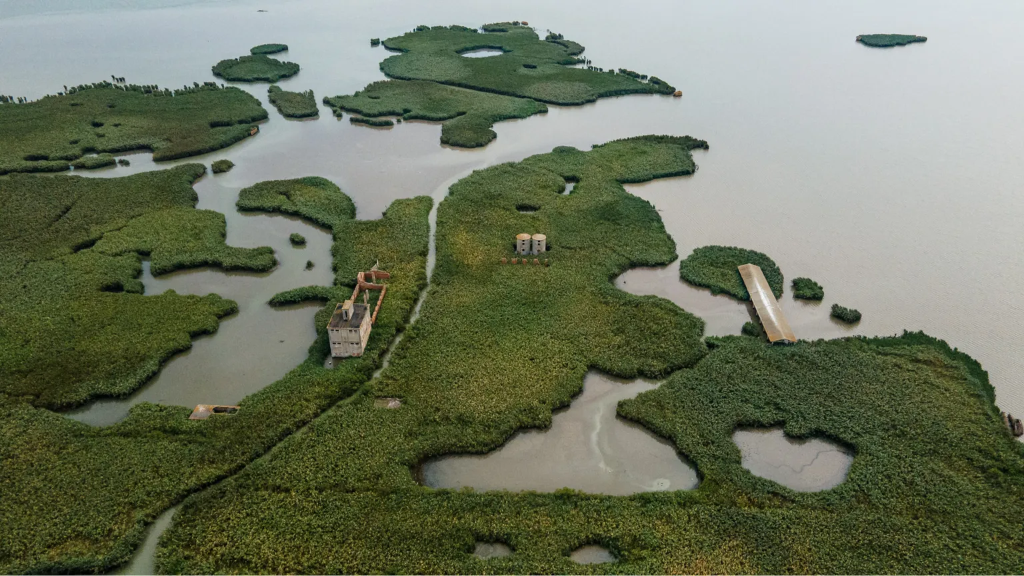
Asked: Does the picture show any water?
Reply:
Yes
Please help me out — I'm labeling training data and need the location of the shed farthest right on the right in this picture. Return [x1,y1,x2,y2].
[737,263,797,349]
